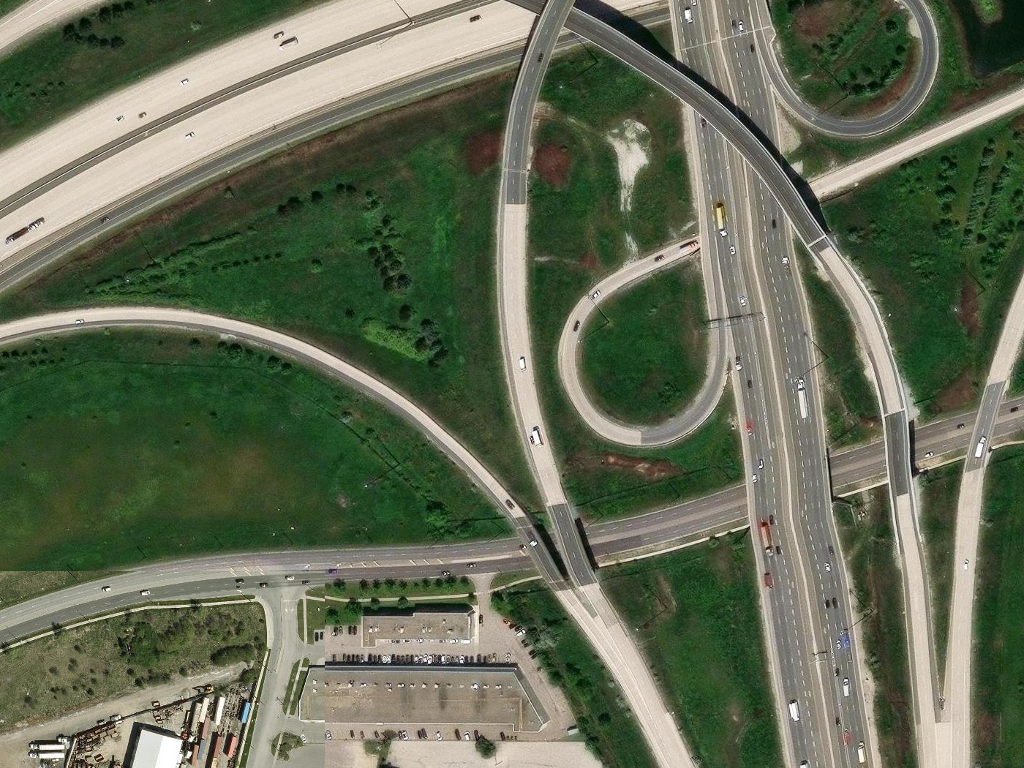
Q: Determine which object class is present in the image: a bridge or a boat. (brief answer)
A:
bridge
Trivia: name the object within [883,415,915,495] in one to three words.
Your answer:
bridge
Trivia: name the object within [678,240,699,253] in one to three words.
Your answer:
vehicle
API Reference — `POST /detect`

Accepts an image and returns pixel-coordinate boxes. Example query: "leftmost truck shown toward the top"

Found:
[8,219,45,241]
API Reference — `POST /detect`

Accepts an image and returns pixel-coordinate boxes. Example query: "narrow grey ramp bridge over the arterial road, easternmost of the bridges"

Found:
[965,379,1010,472]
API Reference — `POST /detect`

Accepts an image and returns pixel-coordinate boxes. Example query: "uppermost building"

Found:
[363,609,476,647]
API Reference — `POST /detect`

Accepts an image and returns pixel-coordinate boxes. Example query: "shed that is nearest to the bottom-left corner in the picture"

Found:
[131,725,189,768]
